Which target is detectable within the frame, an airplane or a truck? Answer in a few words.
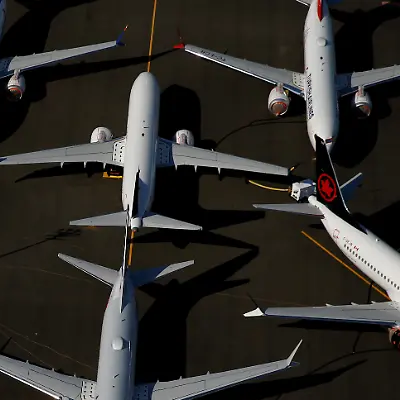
airplane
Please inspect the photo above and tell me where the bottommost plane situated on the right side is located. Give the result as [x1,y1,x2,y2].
[244,136,400,352]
